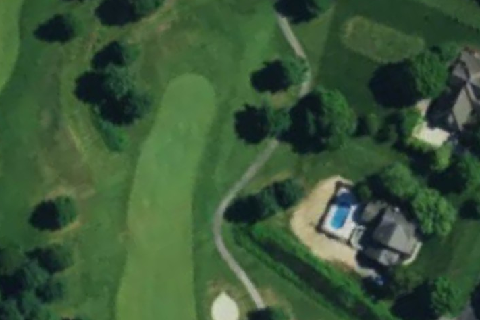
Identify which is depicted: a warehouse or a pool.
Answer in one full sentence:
The image shows a pool.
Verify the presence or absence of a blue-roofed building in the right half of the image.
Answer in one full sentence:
No, looking in the right half of the image, there is no blue-roofed building.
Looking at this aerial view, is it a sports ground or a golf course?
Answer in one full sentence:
This image shows a golf course.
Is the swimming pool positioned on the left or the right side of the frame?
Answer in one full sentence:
The swimming pool sits on the right side.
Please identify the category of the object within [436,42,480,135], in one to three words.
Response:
house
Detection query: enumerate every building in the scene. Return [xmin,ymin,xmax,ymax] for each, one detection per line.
[358,201,421,269]
[436,42,480,135]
